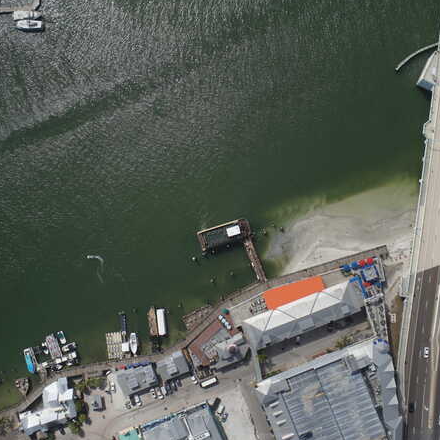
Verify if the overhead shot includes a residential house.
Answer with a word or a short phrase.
Yes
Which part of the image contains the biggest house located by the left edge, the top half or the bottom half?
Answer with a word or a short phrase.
bottom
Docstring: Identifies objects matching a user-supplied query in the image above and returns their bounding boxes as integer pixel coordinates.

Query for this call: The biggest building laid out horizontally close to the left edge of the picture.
[21,405,78,434]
